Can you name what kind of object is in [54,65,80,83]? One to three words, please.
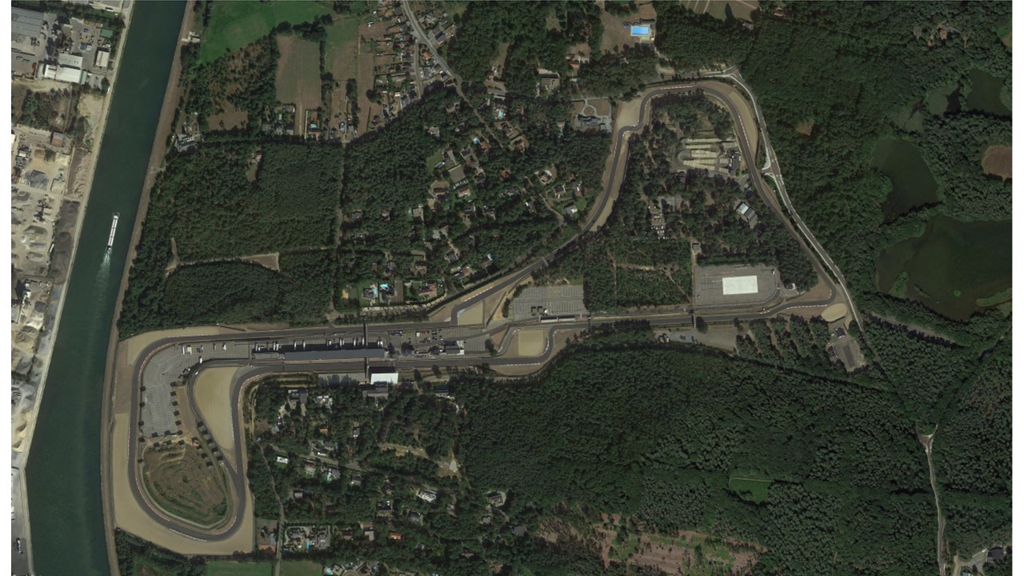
building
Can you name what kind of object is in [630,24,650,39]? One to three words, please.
swimming pool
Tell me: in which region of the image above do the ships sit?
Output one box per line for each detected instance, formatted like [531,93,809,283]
[107,212,119,253]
